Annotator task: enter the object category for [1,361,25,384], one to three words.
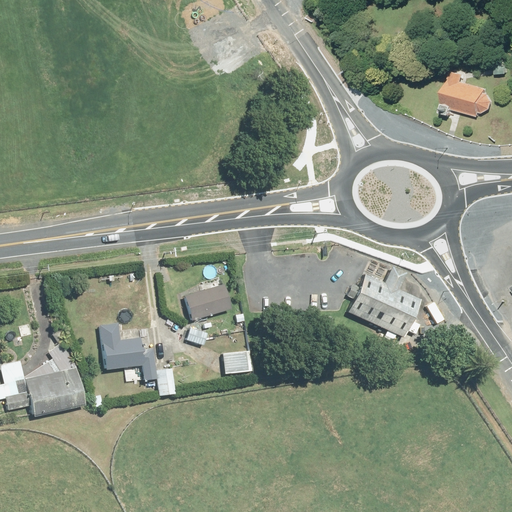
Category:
house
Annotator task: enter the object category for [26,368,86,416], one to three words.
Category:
shed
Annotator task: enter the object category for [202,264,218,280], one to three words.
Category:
swimming pool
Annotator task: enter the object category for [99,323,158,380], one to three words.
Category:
house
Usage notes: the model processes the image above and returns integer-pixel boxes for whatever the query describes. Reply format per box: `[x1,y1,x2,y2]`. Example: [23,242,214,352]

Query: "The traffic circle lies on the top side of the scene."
[352,160,442,230]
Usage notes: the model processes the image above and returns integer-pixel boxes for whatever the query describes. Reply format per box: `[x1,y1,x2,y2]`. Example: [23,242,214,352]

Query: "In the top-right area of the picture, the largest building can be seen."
[435,72,491,118]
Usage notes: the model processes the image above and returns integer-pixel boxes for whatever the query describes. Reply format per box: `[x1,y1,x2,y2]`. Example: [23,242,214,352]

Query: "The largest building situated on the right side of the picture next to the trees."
[346,268,422,336]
